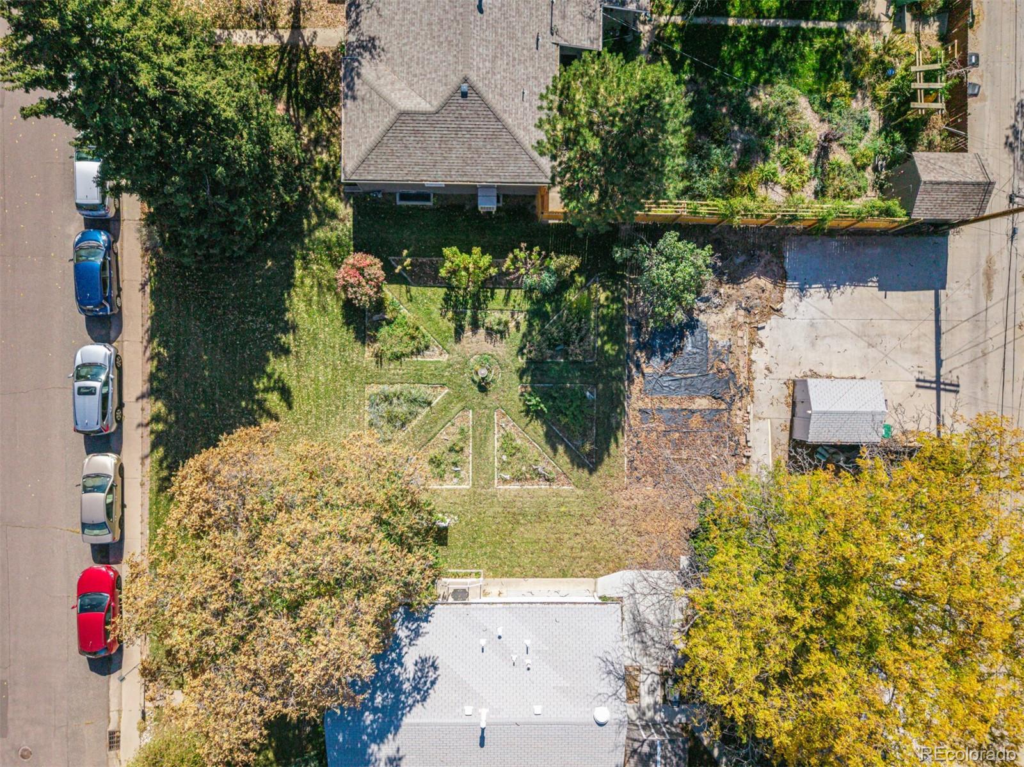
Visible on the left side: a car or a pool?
car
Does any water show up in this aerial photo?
No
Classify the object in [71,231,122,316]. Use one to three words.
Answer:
car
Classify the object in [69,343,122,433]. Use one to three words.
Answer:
car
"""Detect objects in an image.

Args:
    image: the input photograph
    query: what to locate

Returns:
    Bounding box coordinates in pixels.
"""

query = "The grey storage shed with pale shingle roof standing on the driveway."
[791,378,890,443]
